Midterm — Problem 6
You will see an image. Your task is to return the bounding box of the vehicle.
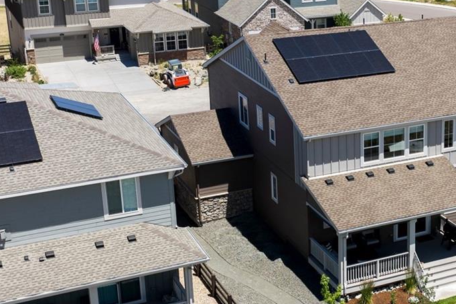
[153,57,192,86]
